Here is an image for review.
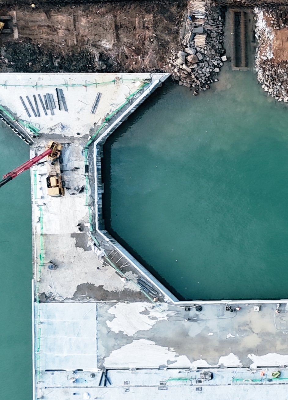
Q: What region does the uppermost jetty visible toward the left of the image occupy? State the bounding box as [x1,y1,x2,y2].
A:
[0,72,183,303]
